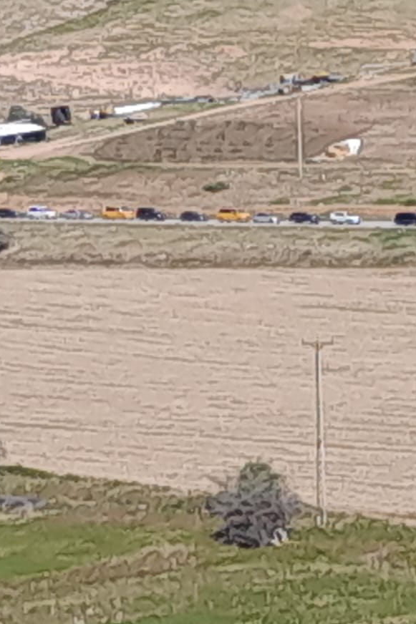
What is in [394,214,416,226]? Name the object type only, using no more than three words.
vehicle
